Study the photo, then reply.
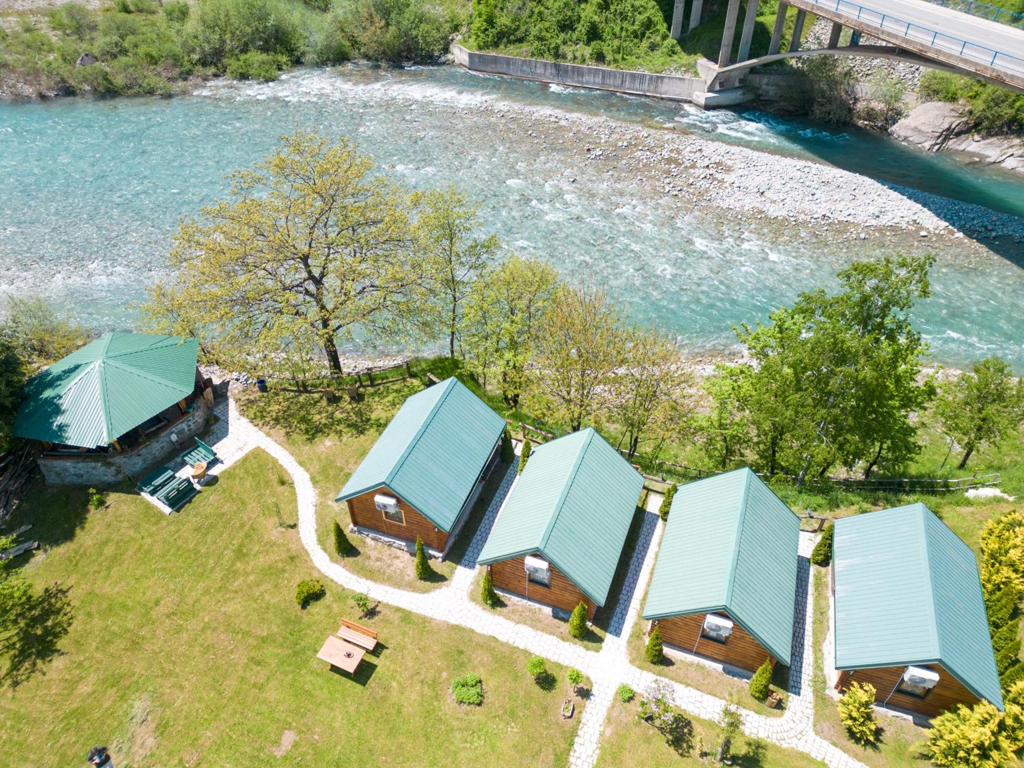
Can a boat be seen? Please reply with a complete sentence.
No, no boat is visible in the scene.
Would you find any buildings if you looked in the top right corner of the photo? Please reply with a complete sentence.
No, there is no building in the top right corner of the photo.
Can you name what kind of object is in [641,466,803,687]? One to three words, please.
building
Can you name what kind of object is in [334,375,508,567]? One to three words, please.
building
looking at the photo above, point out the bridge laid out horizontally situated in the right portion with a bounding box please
[681,0,1024,114]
